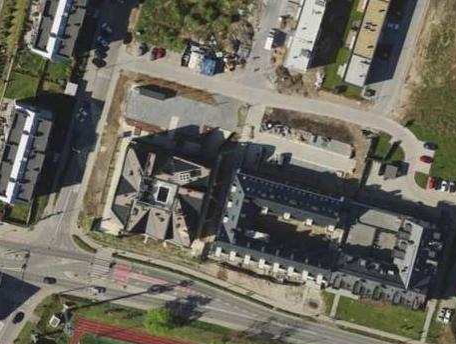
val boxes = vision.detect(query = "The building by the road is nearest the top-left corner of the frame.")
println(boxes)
[31,0,90,66]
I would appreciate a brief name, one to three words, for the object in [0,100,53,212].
building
